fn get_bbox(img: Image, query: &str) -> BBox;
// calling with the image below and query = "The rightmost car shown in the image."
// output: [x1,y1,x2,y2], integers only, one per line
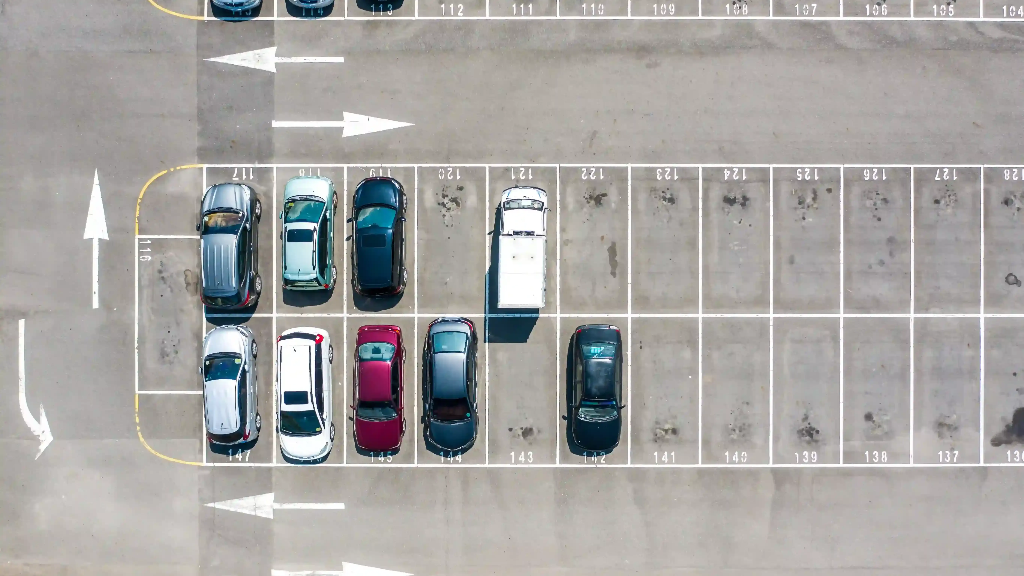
[569,324,628,449]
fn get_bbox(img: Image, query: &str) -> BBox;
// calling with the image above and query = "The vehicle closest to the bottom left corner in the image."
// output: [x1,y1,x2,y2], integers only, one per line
[196,325,263,444]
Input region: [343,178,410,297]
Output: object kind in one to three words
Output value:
car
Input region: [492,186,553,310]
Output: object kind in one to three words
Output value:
truck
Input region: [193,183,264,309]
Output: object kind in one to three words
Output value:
car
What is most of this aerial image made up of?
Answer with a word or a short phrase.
paved ground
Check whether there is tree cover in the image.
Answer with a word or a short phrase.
No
